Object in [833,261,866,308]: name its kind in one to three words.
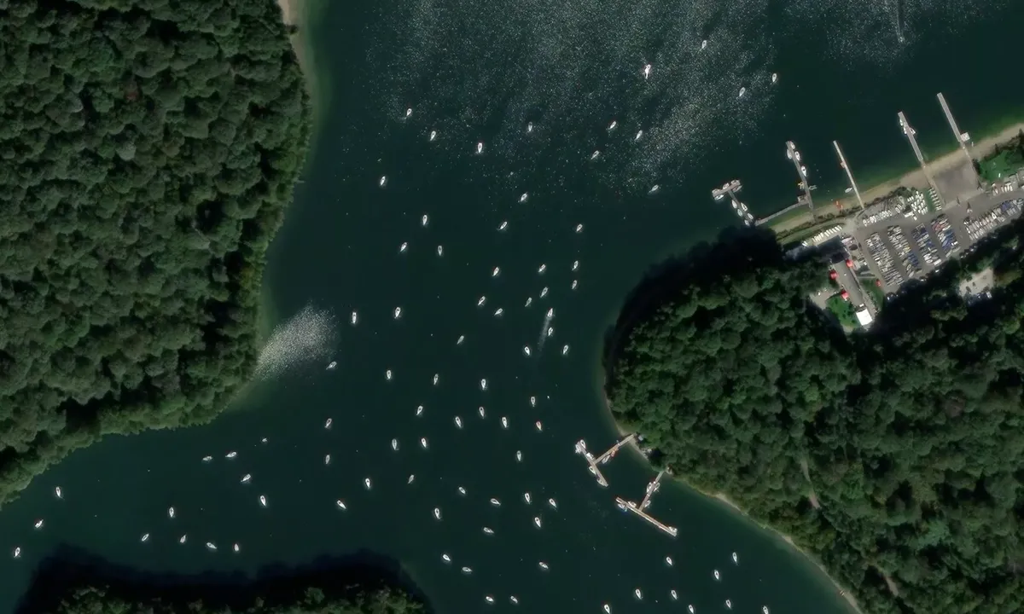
building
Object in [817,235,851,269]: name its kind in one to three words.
building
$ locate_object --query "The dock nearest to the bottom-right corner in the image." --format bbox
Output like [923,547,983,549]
[615,470,676,537]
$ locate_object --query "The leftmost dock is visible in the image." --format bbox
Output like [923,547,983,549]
[577,437,631,487]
